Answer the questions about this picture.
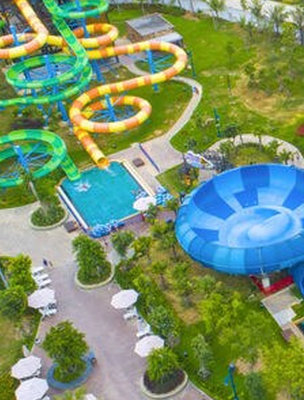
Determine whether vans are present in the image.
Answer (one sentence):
No, there isn't any van down there.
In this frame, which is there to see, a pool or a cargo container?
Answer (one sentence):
The one in the frame is a pool.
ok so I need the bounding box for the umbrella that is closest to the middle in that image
[134,197,157,220]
